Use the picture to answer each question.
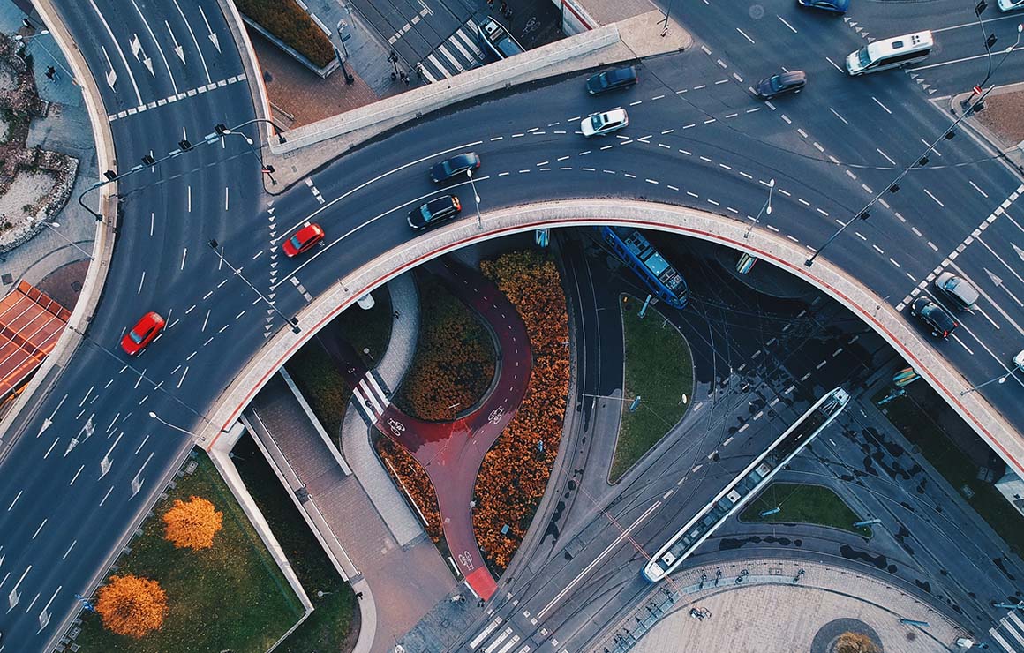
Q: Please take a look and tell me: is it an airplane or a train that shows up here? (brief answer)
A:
train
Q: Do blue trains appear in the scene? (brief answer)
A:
Yes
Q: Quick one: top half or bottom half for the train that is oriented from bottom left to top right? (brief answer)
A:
bottom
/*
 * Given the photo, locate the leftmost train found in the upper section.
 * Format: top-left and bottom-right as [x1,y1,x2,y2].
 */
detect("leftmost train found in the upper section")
[477,16,525,63]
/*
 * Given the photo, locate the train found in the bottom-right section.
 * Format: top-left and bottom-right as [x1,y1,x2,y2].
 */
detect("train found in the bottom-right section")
[641,389,851,579]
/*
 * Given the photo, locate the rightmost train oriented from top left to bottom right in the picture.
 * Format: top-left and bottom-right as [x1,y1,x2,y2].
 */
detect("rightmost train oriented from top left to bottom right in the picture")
[595,226,690,317]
